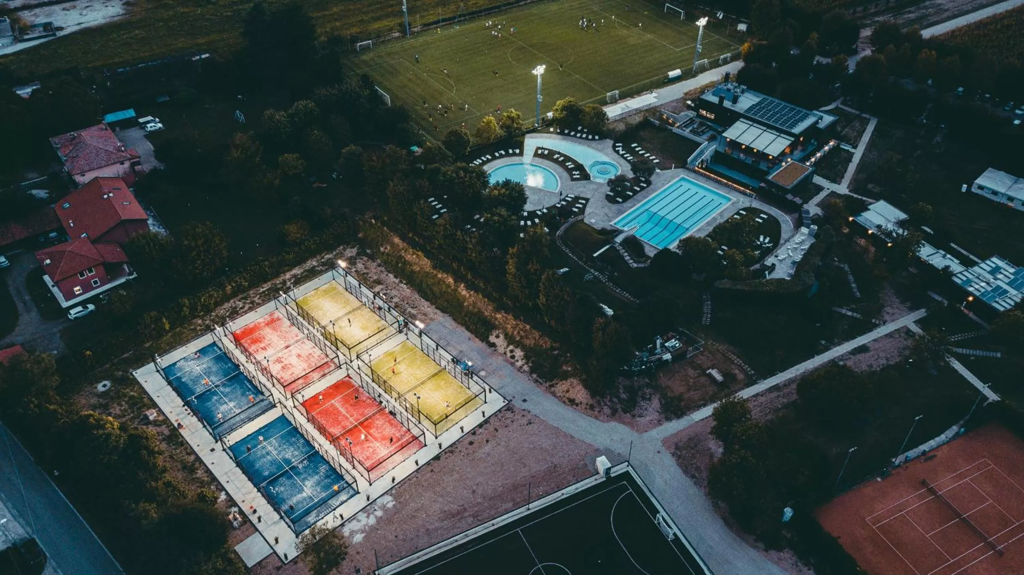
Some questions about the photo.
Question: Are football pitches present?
Yes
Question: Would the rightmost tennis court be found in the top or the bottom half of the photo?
bottom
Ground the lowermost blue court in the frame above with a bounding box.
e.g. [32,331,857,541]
[218,398,359,536]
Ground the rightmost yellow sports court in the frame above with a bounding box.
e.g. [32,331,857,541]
[356,321,486,438]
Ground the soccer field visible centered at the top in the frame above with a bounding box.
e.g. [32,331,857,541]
[326,0,742,157]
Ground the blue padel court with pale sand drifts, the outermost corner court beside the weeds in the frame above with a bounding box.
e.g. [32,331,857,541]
[151,324,276,441]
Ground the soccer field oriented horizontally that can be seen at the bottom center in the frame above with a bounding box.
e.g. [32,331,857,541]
[372,459,719,575]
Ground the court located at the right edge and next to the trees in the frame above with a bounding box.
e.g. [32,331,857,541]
[814,428,1024,575]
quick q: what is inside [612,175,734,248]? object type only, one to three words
swimming pool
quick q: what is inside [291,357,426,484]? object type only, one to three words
sports court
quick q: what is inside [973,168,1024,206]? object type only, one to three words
tent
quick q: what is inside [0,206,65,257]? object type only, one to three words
barn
